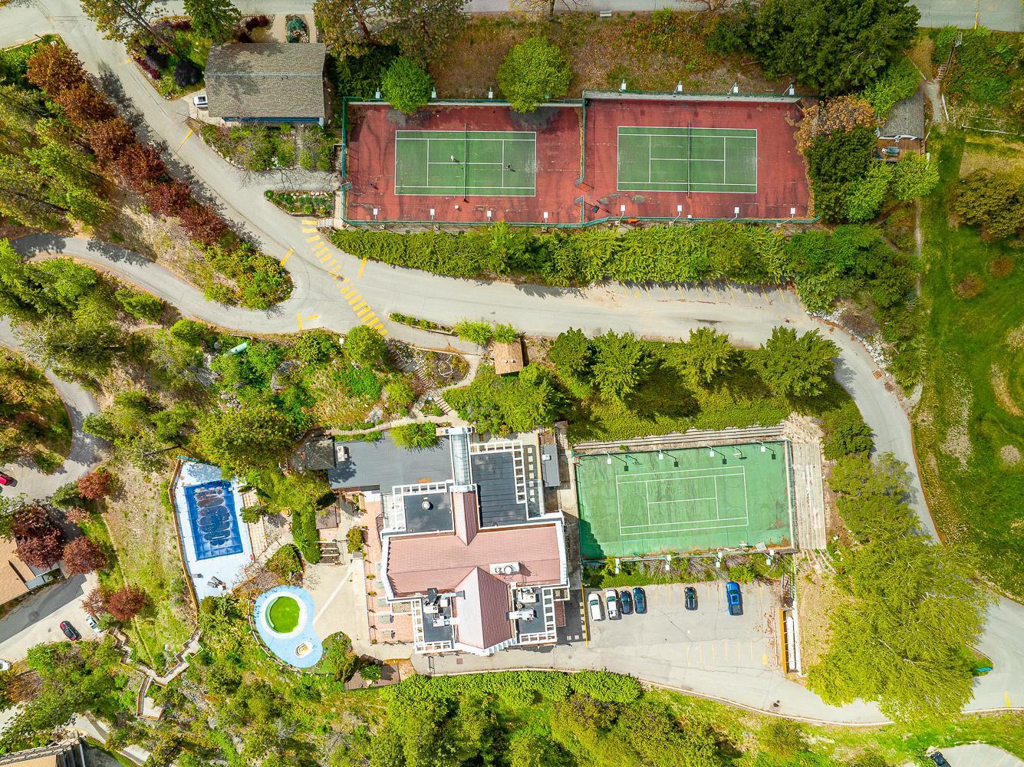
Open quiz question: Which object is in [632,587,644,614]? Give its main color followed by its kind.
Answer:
blue vehicle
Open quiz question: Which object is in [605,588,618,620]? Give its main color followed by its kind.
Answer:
white vehicle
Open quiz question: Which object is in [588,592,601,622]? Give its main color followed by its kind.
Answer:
white vehicle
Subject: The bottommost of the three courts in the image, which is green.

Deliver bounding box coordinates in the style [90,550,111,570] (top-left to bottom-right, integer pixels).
[577,444,797,562]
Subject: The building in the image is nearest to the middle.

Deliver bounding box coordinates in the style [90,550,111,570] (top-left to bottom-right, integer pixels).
[494,341,523,374]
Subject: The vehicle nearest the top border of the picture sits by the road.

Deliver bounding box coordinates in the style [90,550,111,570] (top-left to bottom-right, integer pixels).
[189,95,208,110]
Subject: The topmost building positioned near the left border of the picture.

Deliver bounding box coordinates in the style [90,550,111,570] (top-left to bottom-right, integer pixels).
[0,532,68,605]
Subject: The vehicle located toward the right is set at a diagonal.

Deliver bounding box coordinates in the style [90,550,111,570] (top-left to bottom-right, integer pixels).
[929,746,949,767]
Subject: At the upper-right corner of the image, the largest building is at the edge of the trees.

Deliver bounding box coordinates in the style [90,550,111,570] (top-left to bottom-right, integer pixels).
[874,92,926,161]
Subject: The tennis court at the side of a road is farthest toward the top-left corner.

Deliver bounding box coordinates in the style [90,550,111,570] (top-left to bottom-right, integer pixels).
[347,104,581,222]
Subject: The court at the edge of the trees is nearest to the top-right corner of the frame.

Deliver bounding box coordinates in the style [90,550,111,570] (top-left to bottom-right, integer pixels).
[582,102,818,222]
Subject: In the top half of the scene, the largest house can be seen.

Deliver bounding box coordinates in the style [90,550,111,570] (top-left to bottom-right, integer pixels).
[205,43,328,123]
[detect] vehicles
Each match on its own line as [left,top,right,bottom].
[189,95,208,110]
[929,746,949,767]
[727,582,741,616]
[619,590,630,614]
[588,592,601,622]
[0,473,16,487]
[85,612,103,635]
[632,587,644,614]
[61,619,80,642]
[605,588,618,620]
[684,586,696,609]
